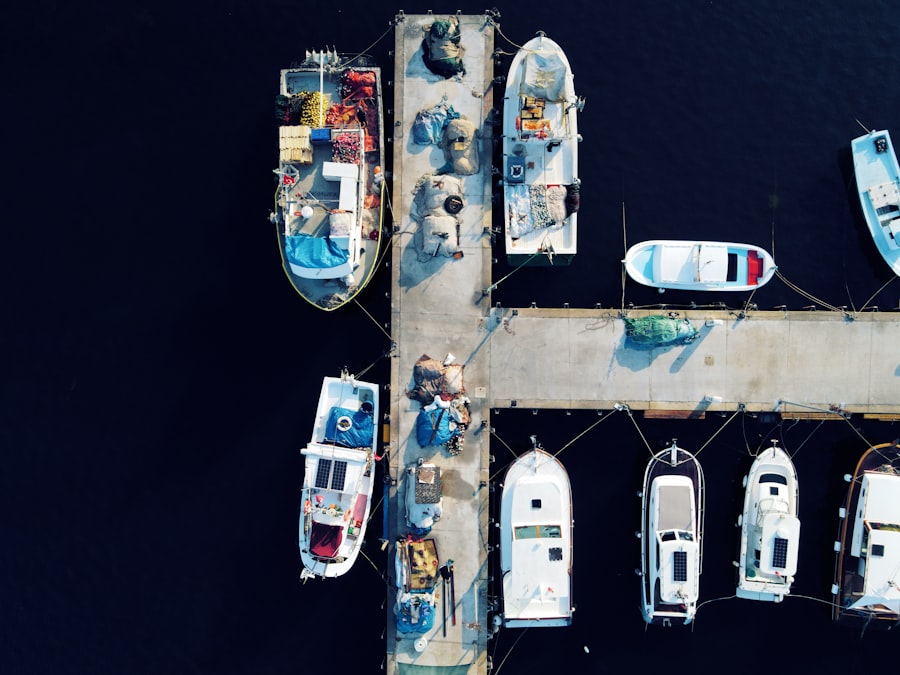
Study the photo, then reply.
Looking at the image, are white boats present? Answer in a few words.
Yes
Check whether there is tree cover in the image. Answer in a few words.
No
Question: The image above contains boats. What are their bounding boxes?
[641,439,706,631]
[275,46,385,311]
[849,129,900,279]
[503,32,587,266]
[736,439,800,602]
[498,434,575,628]
[298,367,380,580]
[835,439,900,626]
[624,239,778,292]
